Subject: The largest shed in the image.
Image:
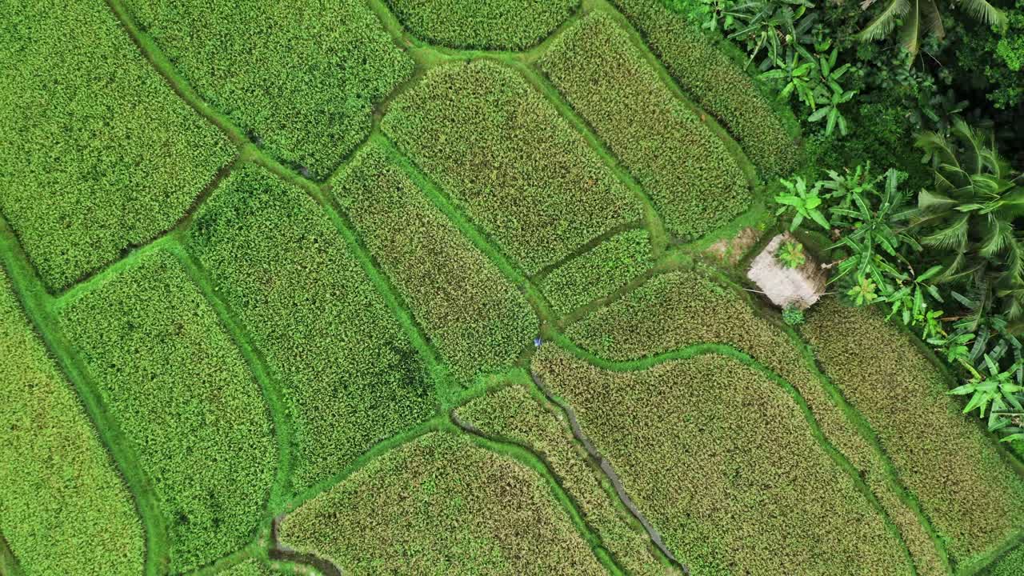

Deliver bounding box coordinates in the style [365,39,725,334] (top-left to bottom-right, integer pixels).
[746,230,830,314]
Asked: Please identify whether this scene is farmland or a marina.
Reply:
farmland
